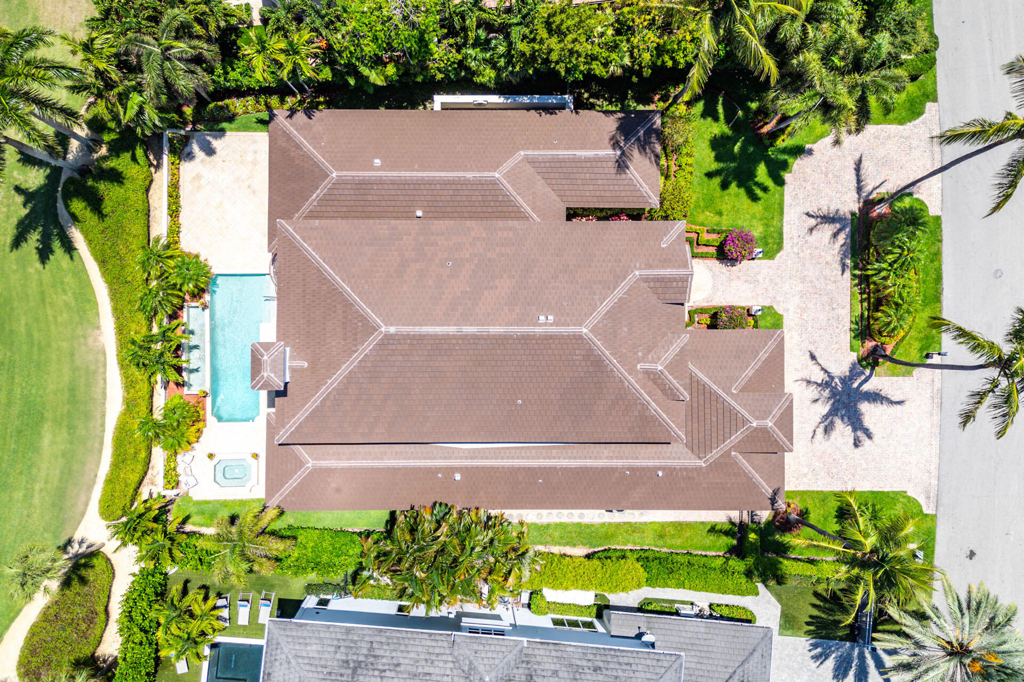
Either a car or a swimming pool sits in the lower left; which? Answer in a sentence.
Visible in the lower left is a swimming pool.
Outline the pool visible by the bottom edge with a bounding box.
[203,638,263,682]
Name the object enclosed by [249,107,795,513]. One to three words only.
house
